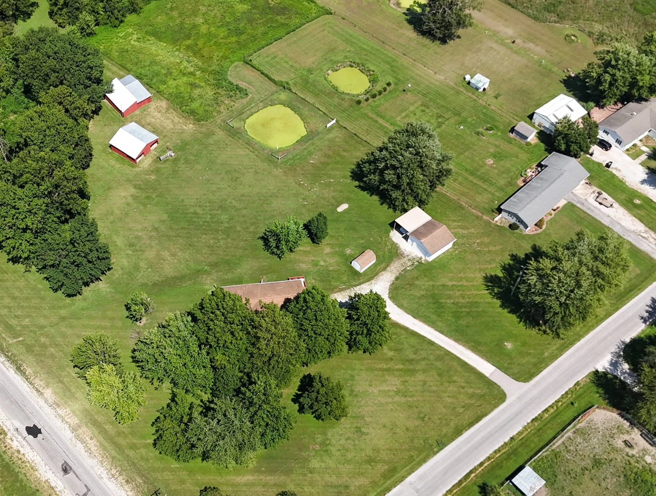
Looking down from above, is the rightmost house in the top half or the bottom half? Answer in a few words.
top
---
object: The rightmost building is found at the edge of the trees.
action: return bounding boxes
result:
[595,99,656,152]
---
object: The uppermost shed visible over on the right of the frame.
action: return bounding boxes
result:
[469,77,494,96]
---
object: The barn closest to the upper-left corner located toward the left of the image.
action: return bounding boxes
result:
[104,78,156,118]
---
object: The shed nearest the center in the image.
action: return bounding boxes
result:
[350,247,377,272]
